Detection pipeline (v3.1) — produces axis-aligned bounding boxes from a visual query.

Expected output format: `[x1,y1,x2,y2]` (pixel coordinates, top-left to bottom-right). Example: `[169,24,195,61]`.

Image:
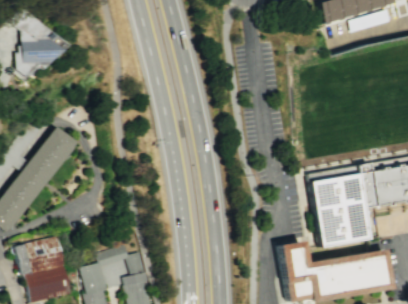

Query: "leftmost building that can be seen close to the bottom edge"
[16,238,69,304]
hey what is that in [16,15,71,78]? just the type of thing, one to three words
house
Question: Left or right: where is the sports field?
right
